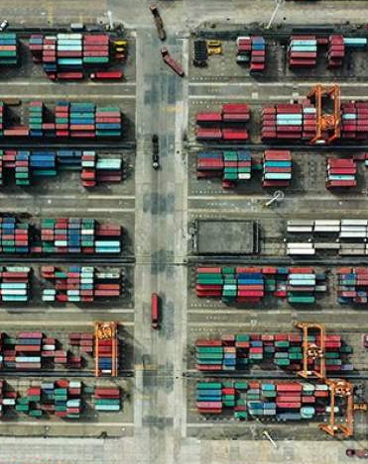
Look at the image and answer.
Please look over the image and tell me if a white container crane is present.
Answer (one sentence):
No, no white container crane is visible in the view.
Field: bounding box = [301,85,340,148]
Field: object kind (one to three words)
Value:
container crane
